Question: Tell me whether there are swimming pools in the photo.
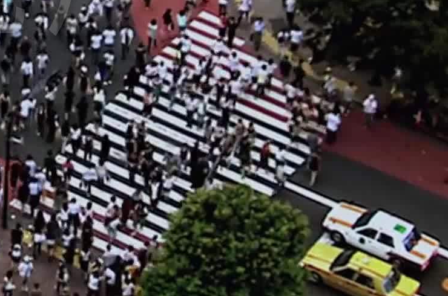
No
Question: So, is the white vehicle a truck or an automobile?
automobile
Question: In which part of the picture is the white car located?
bottom right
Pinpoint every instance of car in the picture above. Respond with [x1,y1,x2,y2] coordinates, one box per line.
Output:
[293,238,425,296]
[315,200,447,272]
